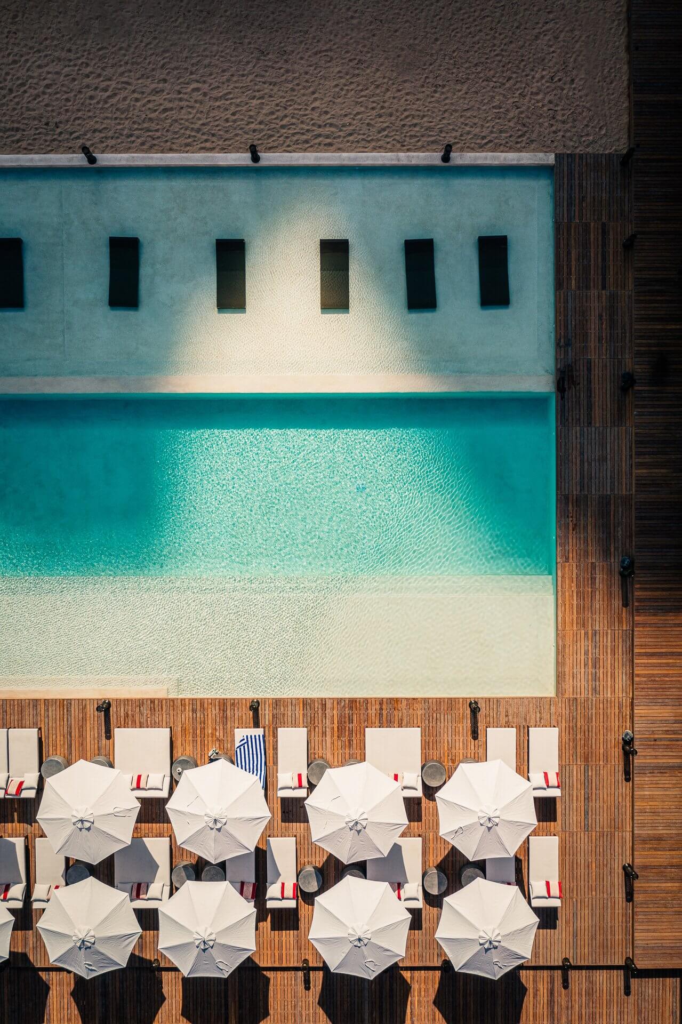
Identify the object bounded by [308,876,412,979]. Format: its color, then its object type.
white umbrella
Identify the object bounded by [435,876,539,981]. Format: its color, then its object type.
white umbrella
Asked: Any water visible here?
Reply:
Yes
